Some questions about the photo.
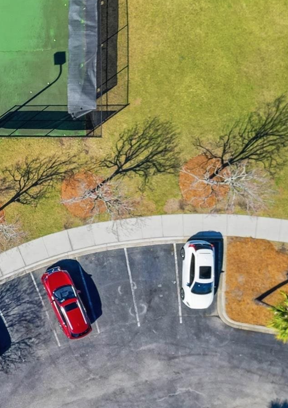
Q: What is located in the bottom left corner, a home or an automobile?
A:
automobile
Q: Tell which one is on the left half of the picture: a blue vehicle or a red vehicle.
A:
red vehicle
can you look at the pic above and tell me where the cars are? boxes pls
[181,240,218,307]
[44,267,90,340]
